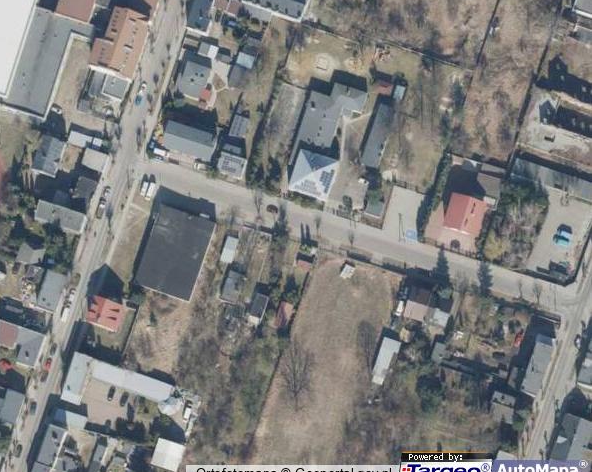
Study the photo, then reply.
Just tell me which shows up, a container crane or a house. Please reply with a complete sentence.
Visible in the photo is a house.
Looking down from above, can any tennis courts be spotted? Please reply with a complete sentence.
No, no tennis court can be seen from above.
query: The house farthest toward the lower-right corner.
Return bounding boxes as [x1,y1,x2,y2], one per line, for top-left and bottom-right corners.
[552,414,592,472]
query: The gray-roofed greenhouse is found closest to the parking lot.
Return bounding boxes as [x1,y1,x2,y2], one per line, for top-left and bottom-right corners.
[512,163,592,204]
